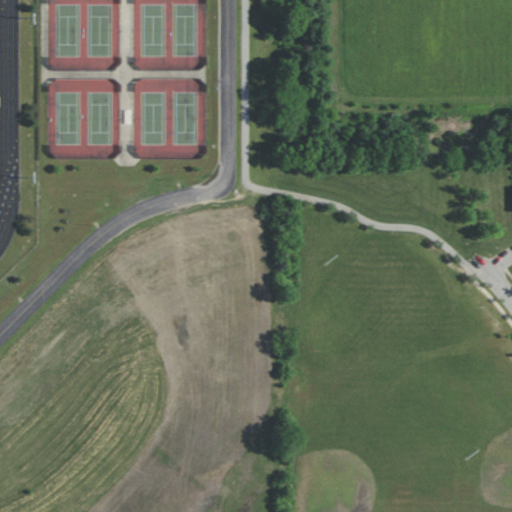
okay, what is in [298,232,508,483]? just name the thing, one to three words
soccer field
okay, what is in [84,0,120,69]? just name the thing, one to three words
tennis court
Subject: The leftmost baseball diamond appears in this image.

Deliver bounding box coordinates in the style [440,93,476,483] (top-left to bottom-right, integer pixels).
[296,449,375,512]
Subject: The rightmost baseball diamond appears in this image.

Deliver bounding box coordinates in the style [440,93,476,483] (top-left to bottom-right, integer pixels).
[481,427,512,508]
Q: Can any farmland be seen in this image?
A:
Yes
